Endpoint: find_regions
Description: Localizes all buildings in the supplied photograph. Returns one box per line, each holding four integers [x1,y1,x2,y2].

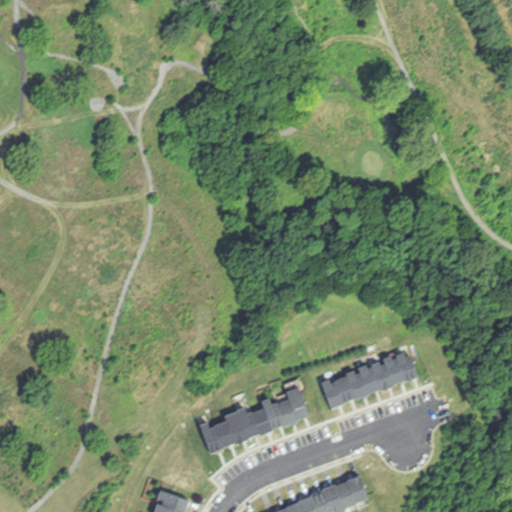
[322,352,418,410]
[270,477,368,512]
[153,492,188,512]
[199,389,308,454]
